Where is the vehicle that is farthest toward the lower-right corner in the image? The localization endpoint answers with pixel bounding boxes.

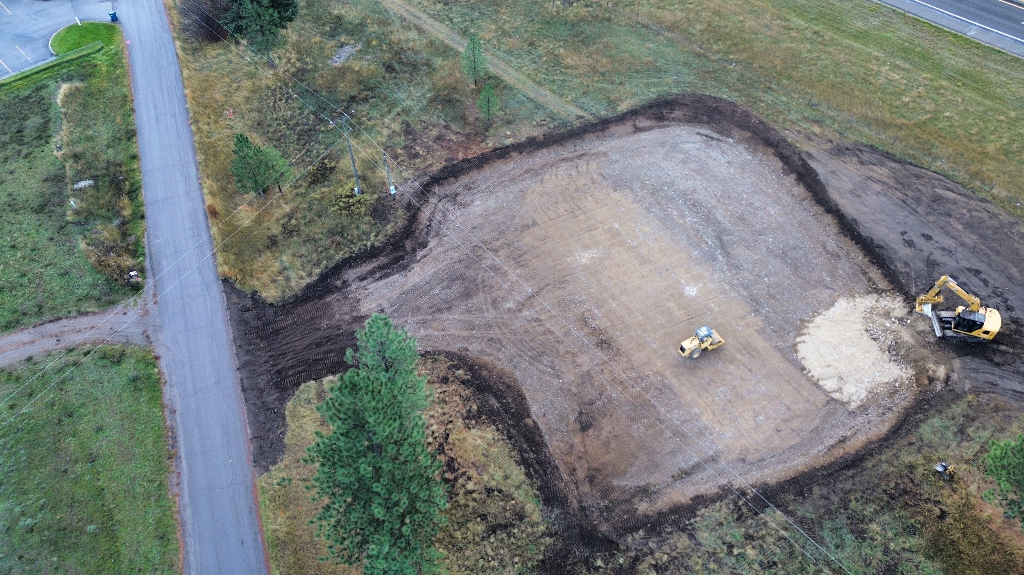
[912,274,1004,341]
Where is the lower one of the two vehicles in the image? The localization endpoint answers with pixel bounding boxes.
[679,326,727,363]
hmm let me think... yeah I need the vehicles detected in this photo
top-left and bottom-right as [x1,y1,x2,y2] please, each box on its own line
[912,274,1004,341]
[679,326,727,363]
